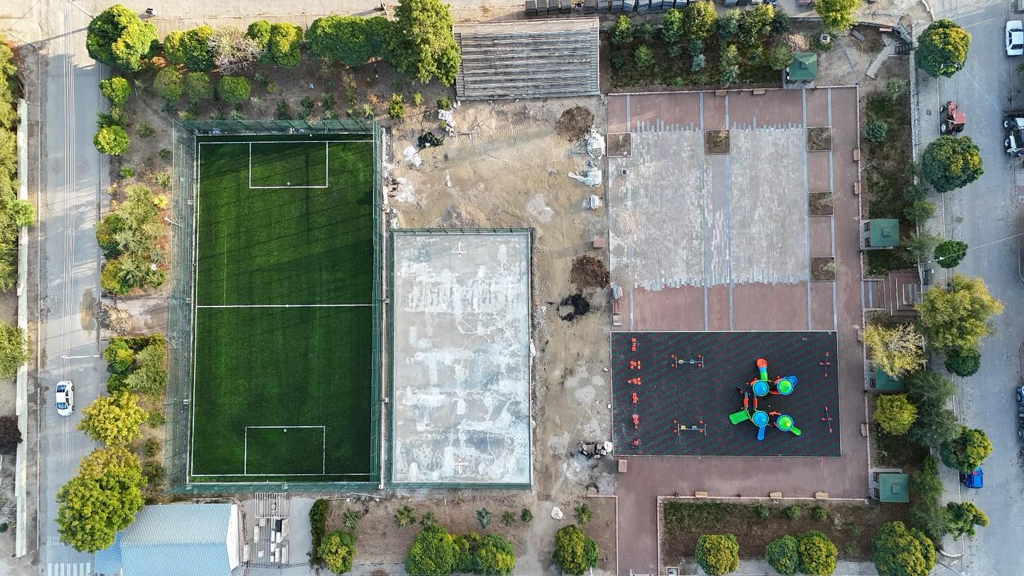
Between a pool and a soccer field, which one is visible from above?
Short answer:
soccer field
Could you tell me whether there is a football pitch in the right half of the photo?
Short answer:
No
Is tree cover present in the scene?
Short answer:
Yes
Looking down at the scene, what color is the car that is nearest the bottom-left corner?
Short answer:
white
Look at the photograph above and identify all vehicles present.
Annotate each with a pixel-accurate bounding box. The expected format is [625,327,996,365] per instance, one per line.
[937,101,966,135]
[54,380,77,415]
[1003,22,1024,57]
[1002,117,1024,156]
[961,470,982,491]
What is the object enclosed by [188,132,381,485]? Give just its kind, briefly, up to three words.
soccer field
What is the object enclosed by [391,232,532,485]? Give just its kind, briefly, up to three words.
sports court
